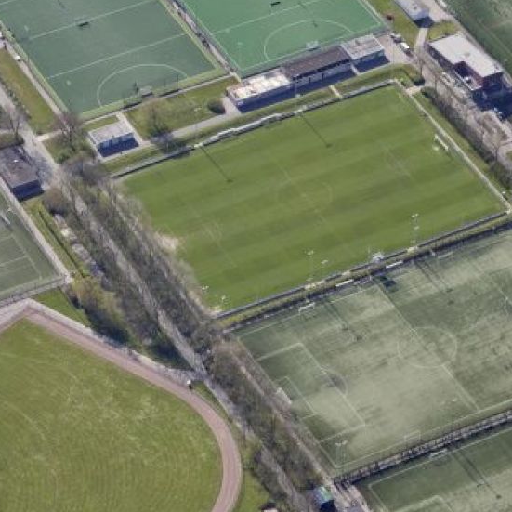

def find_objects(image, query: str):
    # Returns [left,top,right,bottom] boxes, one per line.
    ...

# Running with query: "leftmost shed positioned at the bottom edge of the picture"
[310,488,334,511]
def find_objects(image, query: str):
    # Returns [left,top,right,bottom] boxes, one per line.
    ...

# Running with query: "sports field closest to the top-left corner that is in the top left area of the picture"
[0,0,227,123]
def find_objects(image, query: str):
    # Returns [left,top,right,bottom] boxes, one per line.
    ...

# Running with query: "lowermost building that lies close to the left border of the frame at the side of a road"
[0,145,41,195]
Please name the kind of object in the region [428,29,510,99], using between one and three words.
building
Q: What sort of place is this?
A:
sports ground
